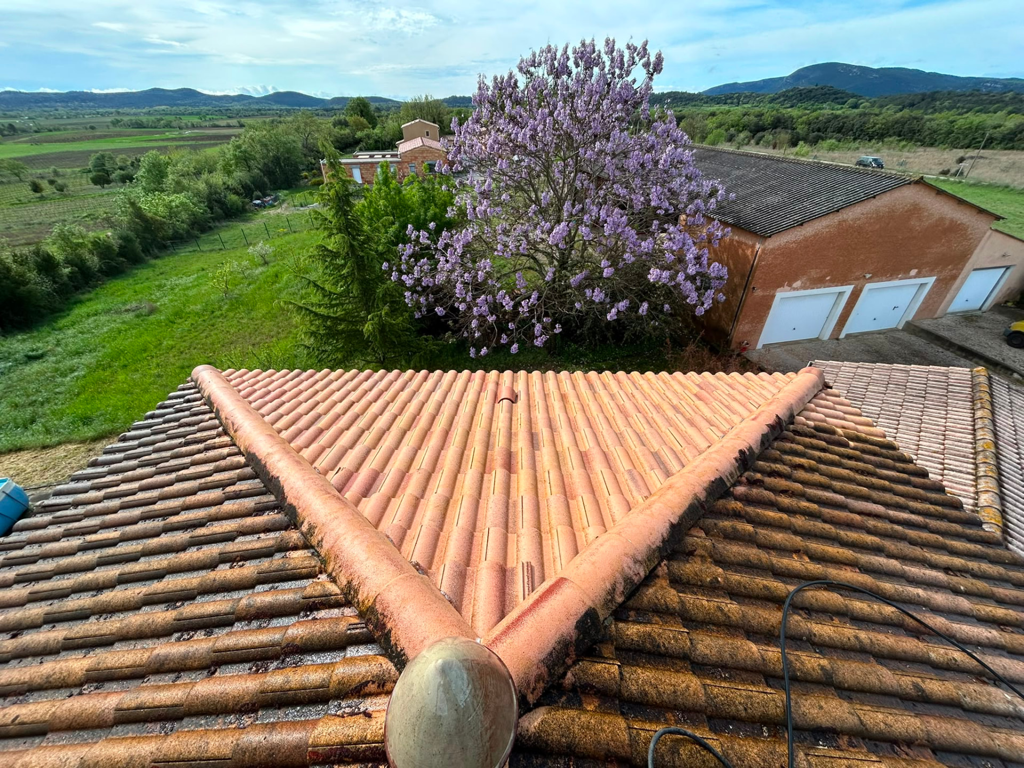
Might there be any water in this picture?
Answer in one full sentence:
No, the picture contains no water.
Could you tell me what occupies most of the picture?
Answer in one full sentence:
For the most part, this view shows buildings.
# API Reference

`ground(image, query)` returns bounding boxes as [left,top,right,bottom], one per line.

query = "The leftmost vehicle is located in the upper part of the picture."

[853,151,891,167]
